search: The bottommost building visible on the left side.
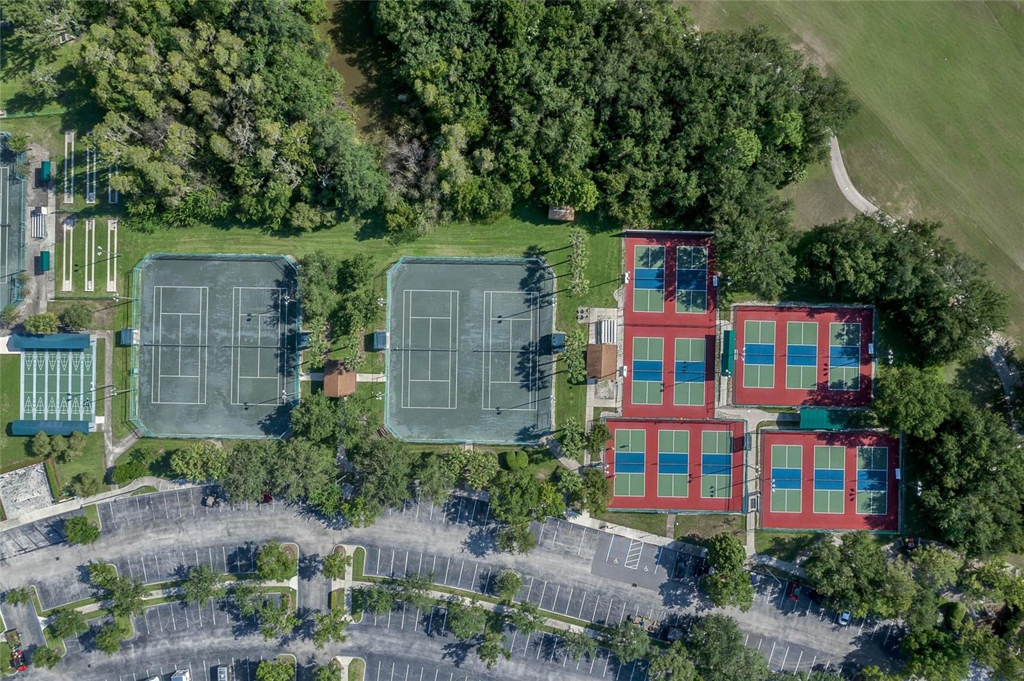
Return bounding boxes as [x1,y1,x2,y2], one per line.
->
[323,361,358,397]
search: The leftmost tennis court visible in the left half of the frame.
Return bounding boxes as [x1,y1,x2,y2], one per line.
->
[0,135,24,306]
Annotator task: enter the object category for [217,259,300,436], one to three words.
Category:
tennis court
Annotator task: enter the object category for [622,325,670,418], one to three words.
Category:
sports court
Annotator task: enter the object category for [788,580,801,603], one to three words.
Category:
vehicle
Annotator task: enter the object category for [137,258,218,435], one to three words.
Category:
tennis court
